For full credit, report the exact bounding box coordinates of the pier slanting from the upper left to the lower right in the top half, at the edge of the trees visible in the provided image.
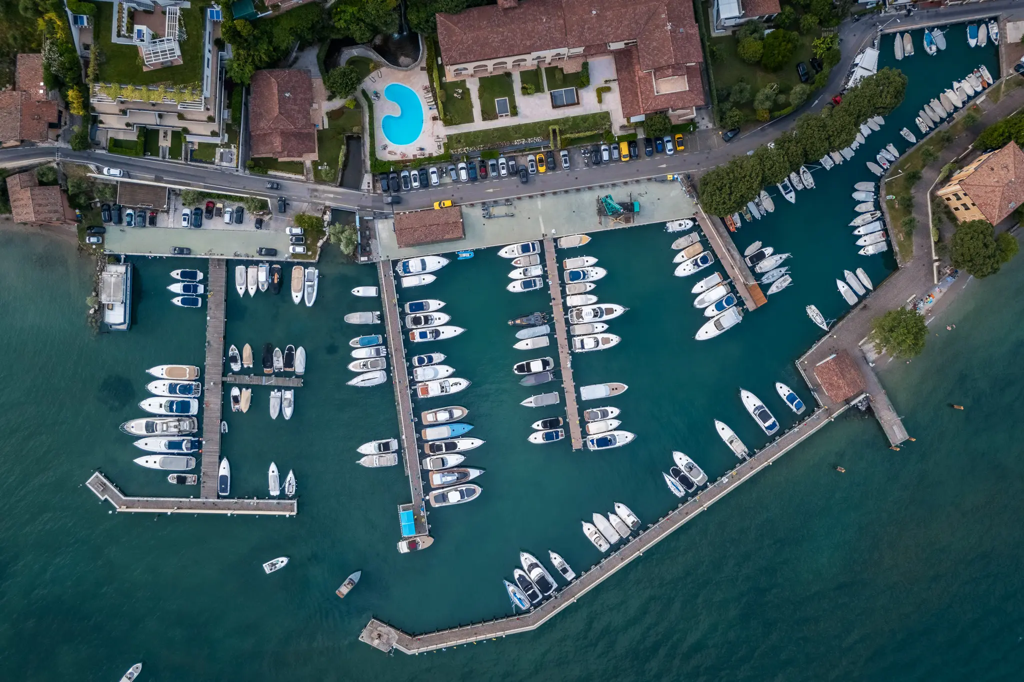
[694,215,767,311]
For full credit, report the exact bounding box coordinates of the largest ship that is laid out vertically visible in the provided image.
[100,249,136,331]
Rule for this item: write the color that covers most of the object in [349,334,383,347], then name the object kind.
blue boat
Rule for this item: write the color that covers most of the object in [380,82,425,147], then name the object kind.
blue swimming pool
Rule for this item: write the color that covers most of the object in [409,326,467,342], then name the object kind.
white boat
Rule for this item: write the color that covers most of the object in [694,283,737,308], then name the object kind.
white boat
